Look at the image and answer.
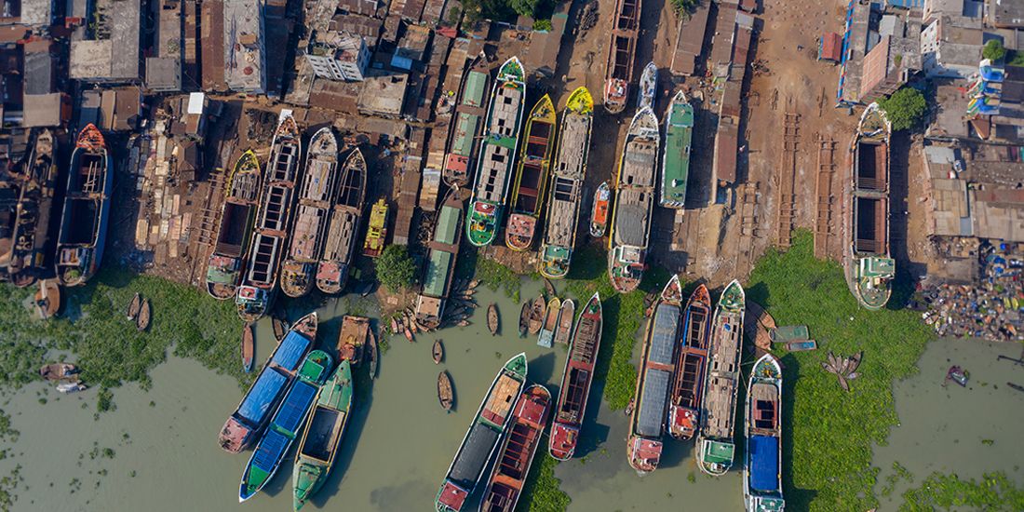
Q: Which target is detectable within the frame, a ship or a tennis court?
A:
ship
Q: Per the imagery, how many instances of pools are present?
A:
0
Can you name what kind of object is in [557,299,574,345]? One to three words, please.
boat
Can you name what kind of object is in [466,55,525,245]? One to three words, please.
ship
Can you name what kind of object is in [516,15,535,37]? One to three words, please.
shed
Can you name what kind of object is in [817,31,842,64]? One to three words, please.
shed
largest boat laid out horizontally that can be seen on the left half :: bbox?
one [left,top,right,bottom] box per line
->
[39,362,79,377]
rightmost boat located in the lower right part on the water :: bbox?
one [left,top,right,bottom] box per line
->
[950,369,965,384]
